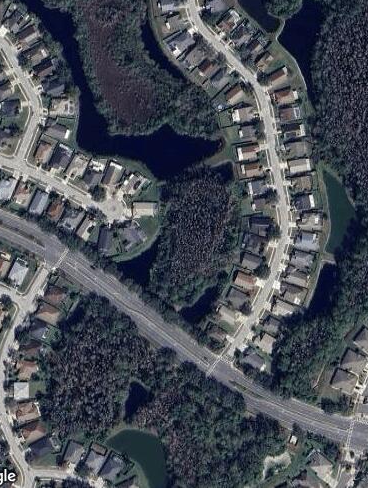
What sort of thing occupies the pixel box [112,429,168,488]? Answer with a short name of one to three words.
pond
